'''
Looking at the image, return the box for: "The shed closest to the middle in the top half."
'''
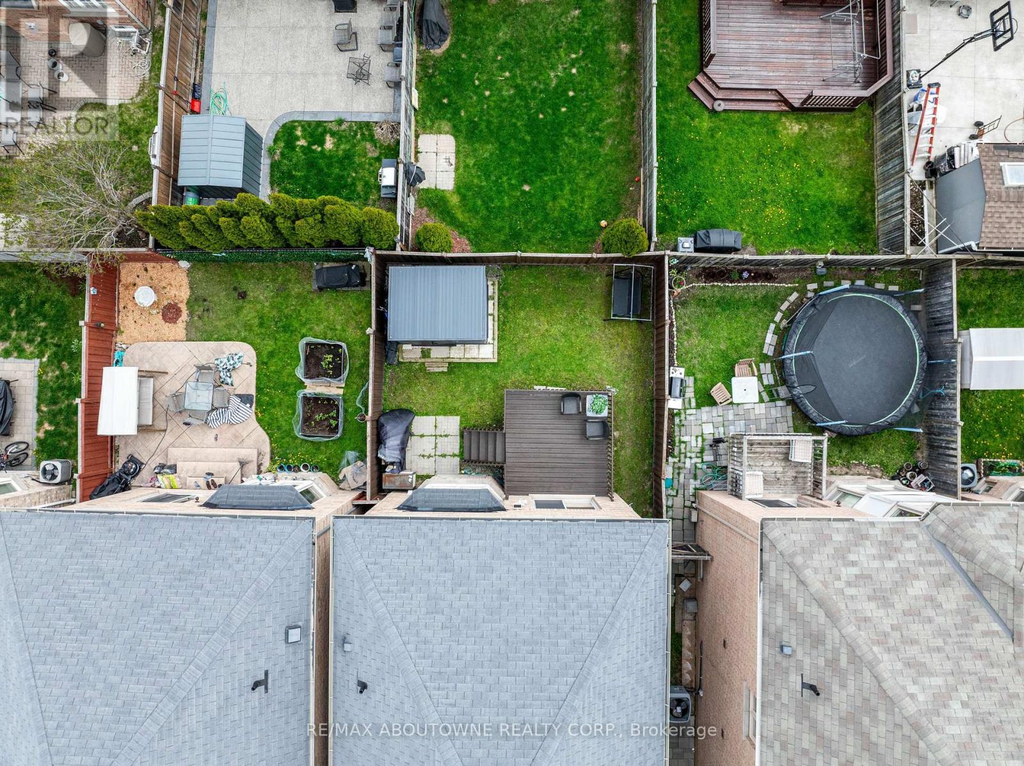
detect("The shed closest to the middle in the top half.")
[388,265,489,345]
